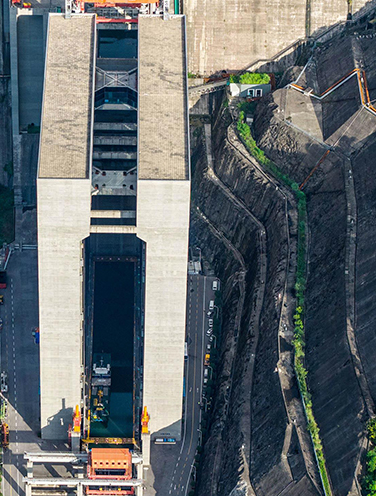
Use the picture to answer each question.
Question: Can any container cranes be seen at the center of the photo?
No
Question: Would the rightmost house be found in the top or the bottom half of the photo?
top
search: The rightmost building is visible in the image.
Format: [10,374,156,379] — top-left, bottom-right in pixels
[230,70,270,98]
